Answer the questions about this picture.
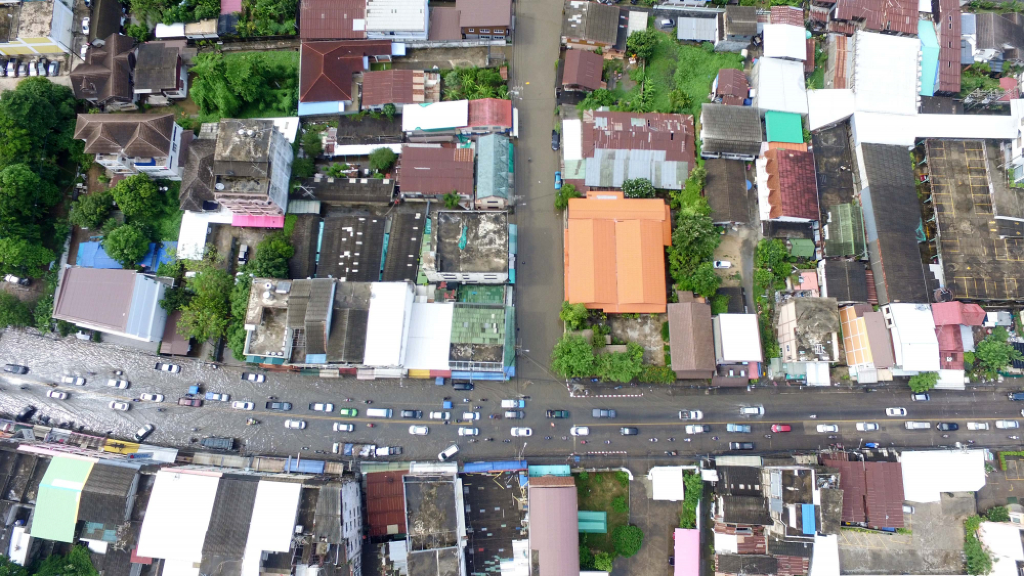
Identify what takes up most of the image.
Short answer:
buildings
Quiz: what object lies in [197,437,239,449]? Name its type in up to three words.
vehicle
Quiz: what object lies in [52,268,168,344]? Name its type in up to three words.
building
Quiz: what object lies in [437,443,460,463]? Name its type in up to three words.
car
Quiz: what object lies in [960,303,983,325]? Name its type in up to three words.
house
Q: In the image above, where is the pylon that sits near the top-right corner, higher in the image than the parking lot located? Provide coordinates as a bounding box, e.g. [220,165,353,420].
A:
[963,87,1019,105]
